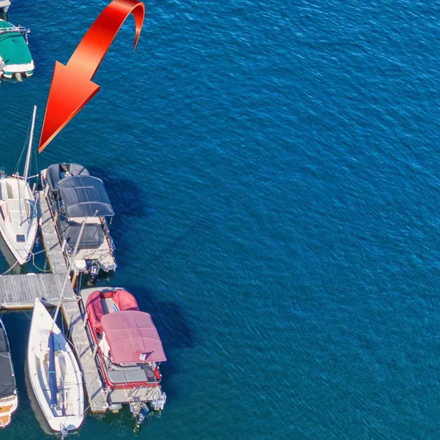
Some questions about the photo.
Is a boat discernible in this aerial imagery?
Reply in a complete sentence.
Yes, a boat is visible in the scene.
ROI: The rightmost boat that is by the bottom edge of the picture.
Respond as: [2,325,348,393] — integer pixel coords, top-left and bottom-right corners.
[75,295,166,423]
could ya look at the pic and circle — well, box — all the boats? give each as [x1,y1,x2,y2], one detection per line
[0,20,35,84]
[75,295,166,423]
[0,317,29,429]
[0,106,38,282]
[26,214,94,440]
[41,166,118,285]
